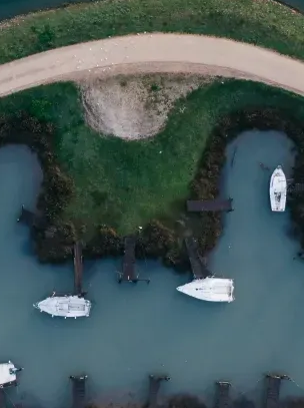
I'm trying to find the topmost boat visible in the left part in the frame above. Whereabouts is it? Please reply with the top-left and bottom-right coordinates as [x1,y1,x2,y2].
[33,295,92,319]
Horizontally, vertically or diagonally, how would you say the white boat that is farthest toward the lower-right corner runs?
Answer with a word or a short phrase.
horizontally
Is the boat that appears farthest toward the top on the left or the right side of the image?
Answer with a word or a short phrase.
right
